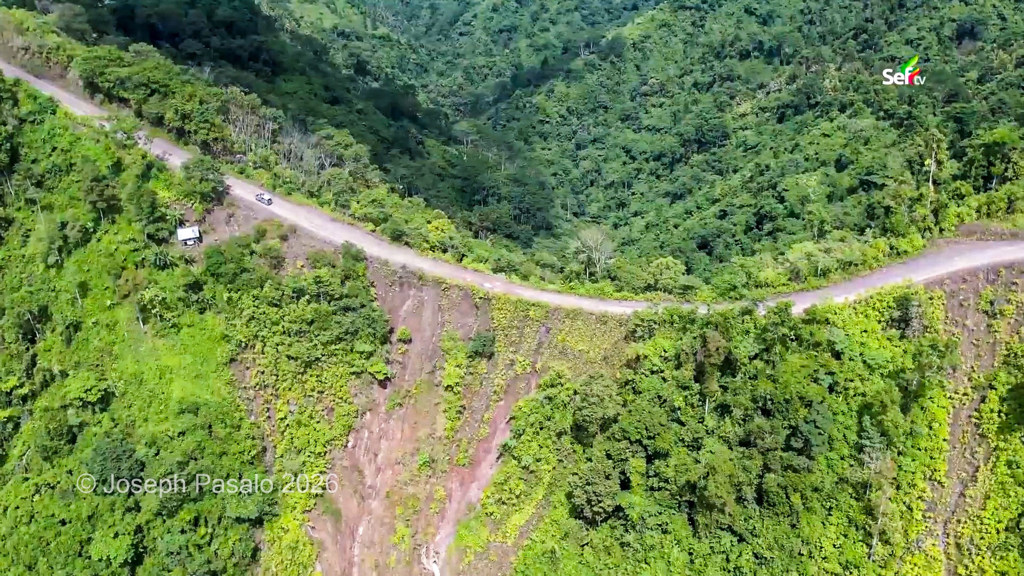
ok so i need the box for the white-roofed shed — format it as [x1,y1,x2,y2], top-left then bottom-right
[174,224,200,249]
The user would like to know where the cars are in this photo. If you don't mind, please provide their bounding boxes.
[252,194,273,208]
